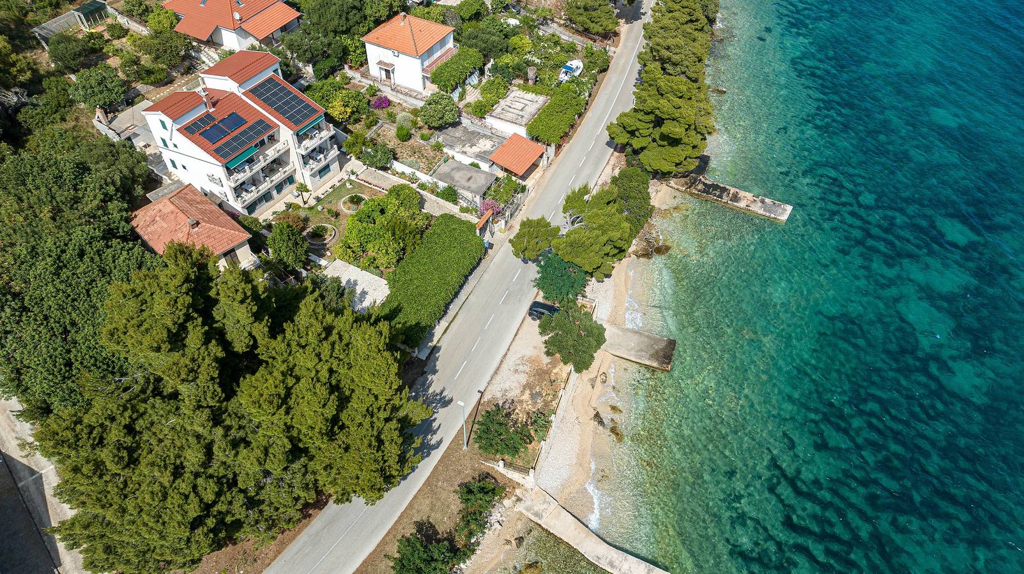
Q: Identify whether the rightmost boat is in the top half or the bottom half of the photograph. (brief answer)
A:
top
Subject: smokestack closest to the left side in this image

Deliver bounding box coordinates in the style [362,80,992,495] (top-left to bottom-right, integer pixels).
[91,102,112,127]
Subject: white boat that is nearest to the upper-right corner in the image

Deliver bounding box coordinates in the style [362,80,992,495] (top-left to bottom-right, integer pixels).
[555,55,578,83]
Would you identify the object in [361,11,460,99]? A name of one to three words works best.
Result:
house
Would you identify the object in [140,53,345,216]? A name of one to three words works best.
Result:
house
